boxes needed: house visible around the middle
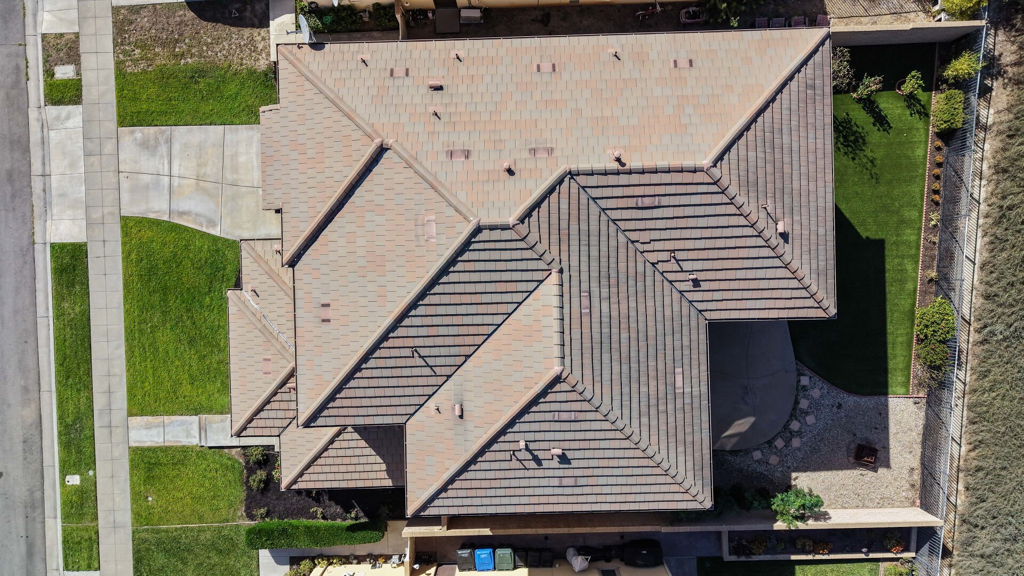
[227,28,838,518]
